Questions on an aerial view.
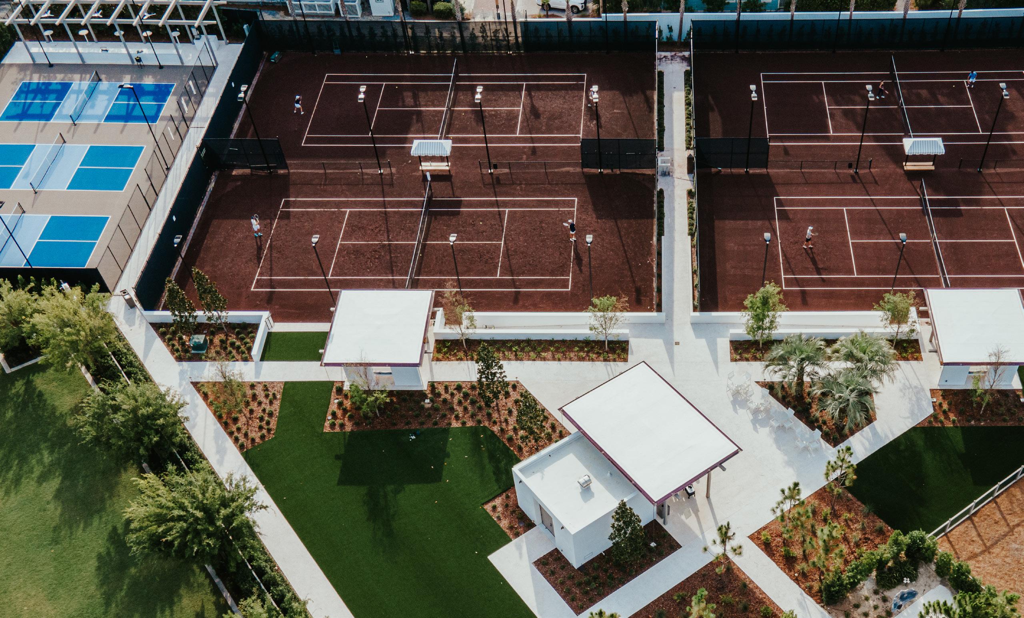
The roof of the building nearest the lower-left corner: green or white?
white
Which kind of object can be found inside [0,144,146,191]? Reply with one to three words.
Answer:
sports court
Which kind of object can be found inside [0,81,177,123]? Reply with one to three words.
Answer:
sports court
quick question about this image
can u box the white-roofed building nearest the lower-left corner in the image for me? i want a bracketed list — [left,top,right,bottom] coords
[320,288,440,390]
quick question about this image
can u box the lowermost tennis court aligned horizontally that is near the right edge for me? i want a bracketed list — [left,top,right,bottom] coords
[696,169,1024,322]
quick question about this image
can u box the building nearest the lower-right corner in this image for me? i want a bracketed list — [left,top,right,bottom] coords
[920,287,1024,389]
